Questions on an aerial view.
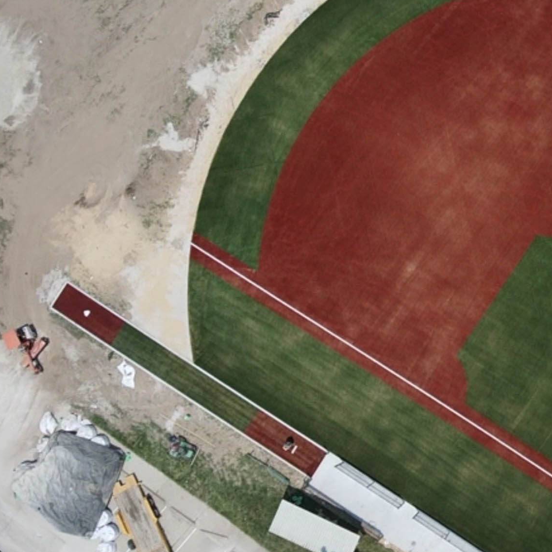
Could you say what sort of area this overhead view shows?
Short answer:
sports ground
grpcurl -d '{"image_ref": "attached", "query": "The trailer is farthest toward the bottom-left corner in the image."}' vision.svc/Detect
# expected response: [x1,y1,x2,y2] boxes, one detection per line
[108,473,169,552]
